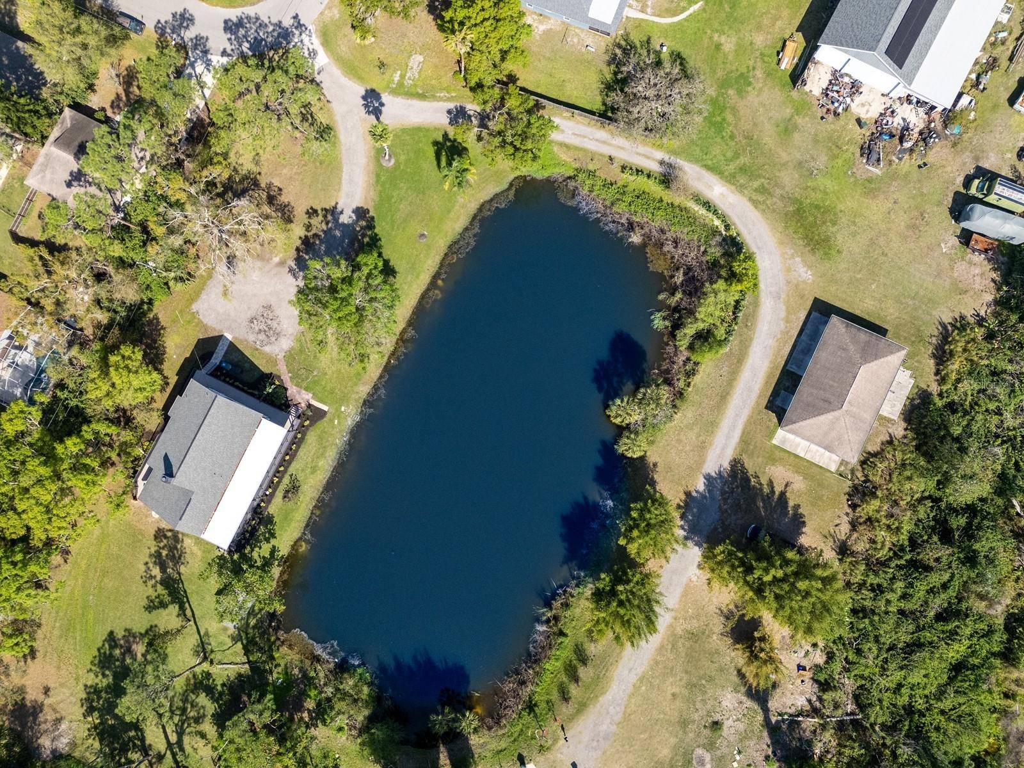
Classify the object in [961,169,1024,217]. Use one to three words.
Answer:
truck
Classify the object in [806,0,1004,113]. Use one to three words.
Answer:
barn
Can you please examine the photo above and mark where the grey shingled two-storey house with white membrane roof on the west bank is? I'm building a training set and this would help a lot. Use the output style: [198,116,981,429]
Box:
[134,369,313,552]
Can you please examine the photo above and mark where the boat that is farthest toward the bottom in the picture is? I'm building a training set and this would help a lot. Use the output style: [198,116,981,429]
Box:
[949,206,1024,251]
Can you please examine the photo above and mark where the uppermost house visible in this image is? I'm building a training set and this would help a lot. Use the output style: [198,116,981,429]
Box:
[520,0,631,47]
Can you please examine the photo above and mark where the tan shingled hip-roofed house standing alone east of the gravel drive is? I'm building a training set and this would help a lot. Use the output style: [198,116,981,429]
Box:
[772,311,914,472]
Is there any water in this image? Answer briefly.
Yes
